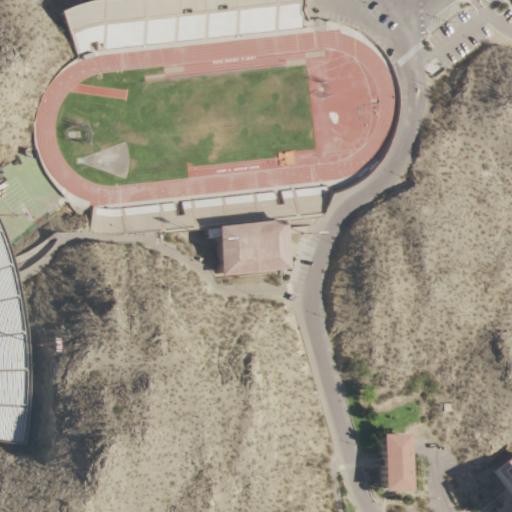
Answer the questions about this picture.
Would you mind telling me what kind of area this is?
sports ground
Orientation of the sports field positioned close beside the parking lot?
from side to side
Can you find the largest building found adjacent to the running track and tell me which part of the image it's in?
center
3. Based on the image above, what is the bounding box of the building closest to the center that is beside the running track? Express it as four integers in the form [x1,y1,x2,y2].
[206,220,293,274]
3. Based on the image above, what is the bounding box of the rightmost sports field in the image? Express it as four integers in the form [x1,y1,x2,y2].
[53,49,336,186]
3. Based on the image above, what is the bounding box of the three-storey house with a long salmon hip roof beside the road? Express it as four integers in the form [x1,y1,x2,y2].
[378,434,417,491]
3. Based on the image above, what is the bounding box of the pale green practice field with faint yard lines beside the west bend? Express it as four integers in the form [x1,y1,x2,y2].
[0,152,60,243]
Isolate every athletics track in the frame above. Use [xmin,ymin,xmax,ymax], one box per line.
[34,30,398,204]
